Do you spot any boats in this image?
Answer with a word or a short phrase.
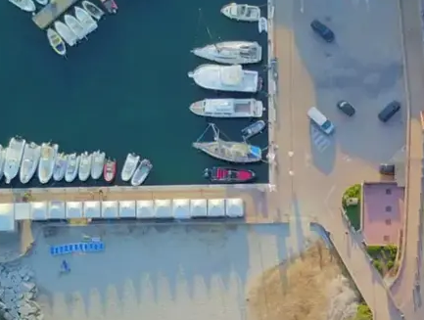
Yes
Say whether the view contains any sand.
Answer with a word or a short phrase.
Yes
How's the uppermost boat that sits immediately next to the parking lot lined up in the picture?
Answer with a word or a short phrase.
from left to right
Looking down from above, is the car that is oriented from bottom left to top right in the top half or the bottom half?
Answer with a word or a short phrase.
top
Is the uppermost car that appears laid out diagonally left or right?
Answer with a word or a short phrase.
right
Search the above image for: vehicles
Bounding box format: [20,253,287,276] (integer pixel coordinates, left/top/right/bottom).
[335,97,358,119]
[307,16,337,44]
[305,104,335,133]
[376,100,403,123]
[377,163,399,175]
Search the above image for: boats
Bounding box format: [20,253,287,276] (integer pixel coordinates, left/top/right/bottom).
[53,149,69,186]
[21,140,41,185]
[202,165,254,184]
[64,148,82,189]
[47,28,70,59]
[84,0,107,23]
[73,4,101,34]
[64,13,89,42]
[38,139,59,187]
[190,96,270,120]
[77,147,93,188]
[54,22,81,50]
[100,0,119,16]
[10,0,36,11]
[2,133,27,187]
[192,136,268,165]
[257,15,267,36]
[133,155,154,186]
[121,149,141,186]
[90,146,107,180]
[0,143,7,182]
[187,61,264,95]
[104,153,118,188]
[234,121,265,140]
[220,1,269,24]
[191,24,263,63]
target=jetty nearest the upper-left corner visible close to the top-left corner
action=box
[33,0,73,29]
